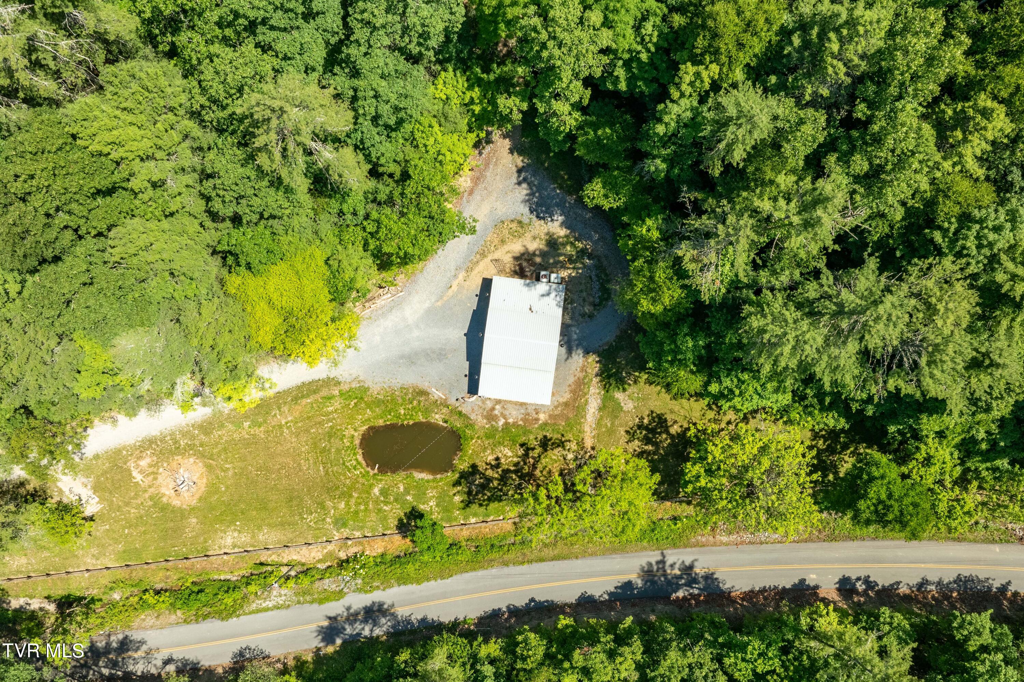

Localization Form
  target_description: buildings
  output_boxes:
[475,276,565,404]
